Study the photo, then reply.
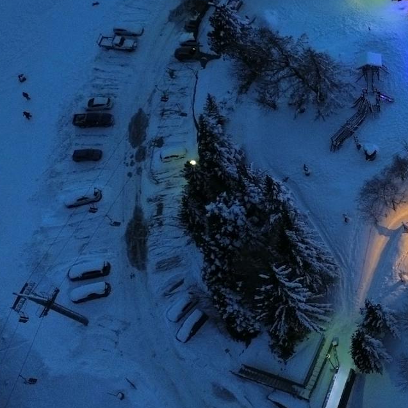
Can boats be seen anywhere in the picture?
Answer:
No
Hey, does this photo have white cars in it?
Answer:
No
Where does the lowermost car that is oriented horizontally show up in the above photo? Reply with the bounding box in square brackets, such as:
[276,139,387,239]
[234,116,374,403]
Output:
[63,282,109,305]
